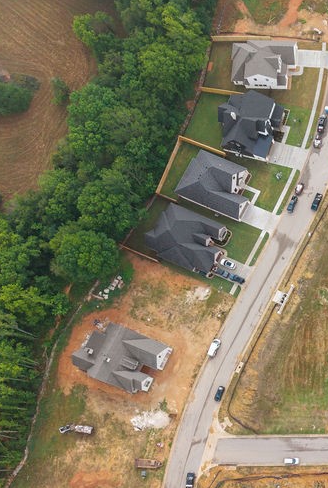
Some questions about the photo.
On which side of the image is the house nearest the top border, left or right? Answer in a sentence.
It is on the right.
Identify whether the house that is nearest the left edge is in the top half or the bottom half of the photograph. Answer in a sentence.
Seen from above, the house that is nearest the left edge lies in the bottom half of the view.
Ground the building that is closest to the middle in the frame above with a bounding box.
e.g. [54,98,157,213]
[140,202,229,276]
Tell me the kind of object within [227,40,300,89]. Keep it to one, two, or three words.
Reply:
house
